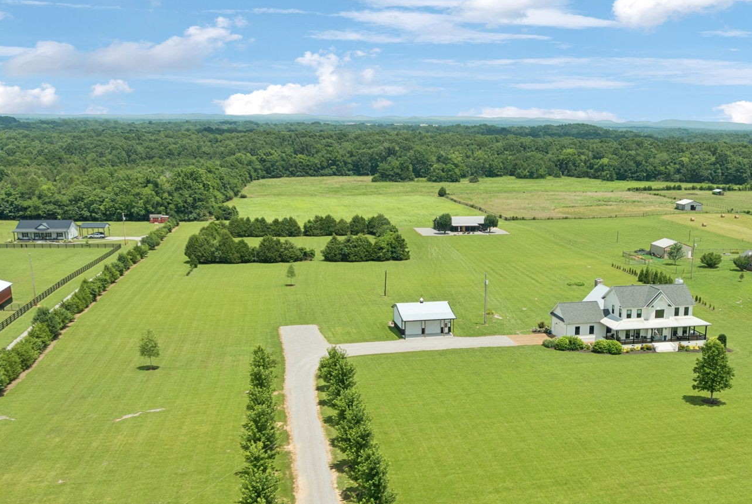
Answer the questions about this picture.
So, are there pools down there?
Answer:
No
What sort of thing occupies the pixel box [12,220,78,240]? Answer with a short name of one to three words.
house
